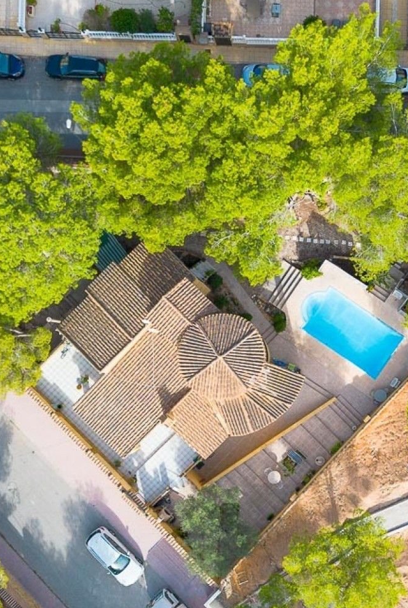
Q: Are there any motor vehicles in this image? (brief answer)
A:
Yes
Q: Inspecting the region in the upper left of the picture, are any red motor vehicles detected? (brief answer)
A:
No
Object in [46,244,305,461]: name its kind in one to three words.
house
